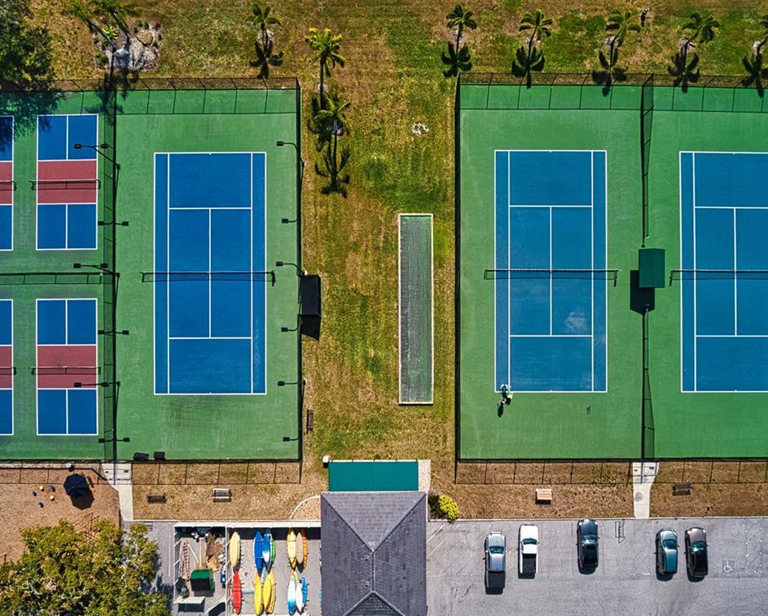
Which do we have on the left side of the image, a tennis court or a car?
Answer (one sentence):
The feature located on the left side of the image is a tennis court.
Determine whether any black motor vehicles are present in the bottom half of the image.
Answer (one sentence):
Yes, a black motor vehicle can be seen in the bottom half of the image.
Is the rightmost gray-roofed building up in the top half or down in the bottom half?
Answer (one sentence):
You can find the rightmost gray-roofed building in the bottom half.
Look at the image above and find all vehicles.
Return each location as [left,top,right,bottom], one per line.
[574,517,598,568]
[683,525,708,576]
[484,527,506,586]
[653,525,678,573]
[518,521,540,573]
